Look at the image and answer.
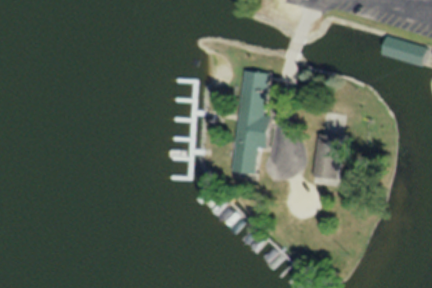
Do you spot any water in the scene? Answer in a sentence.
Yes, the picture does contain water.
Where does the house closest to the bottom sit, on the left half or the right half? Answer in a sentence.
It is on the right.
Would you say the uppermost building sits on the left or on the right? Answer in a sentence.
You can find the uppermost building on the right side of the picture.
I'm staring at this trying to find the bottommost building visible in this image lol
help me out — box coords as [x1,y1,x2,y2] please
[314,134,342,186]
